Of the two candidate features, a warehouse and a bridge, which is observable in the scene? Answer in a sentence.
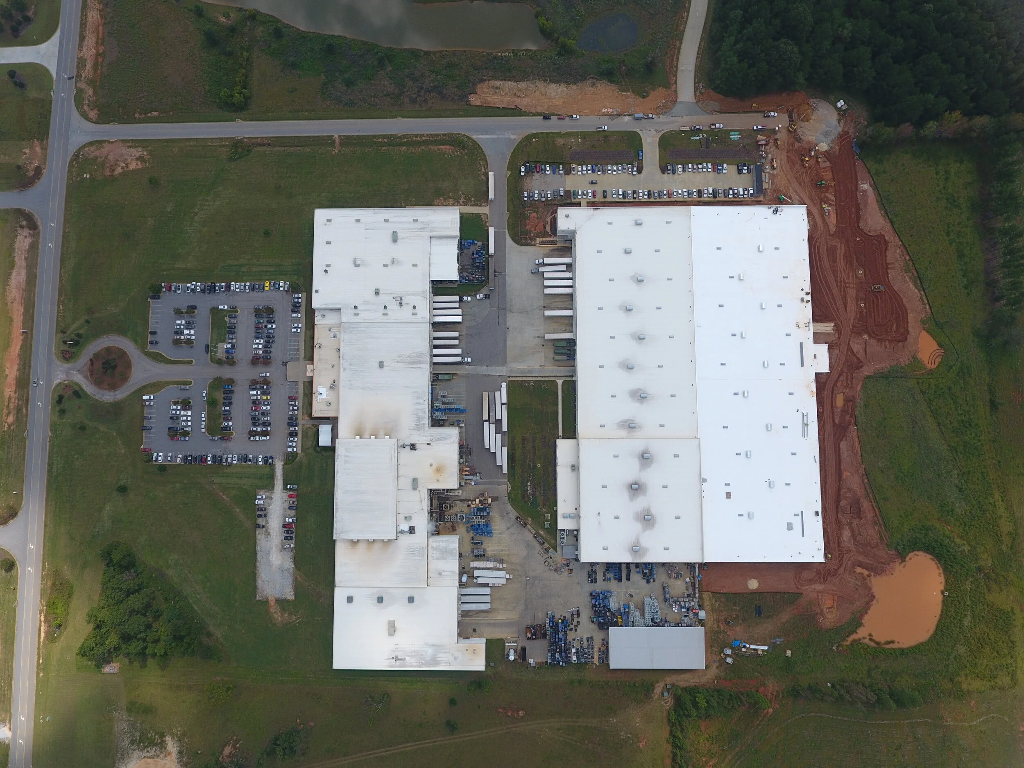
It is a warehouse that can be seen here.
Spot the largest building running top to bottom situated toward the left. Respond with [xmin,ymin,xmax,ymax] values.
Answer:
[306,207,486,671]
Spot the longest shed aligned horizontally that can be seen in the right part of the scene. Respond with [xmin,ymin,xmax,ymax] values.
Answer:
[608,624,705,669]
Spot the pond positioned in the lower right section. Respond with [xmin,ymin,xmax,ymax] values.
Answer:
[846,553,944,648]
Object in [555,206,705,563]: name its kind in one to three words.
warehouse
